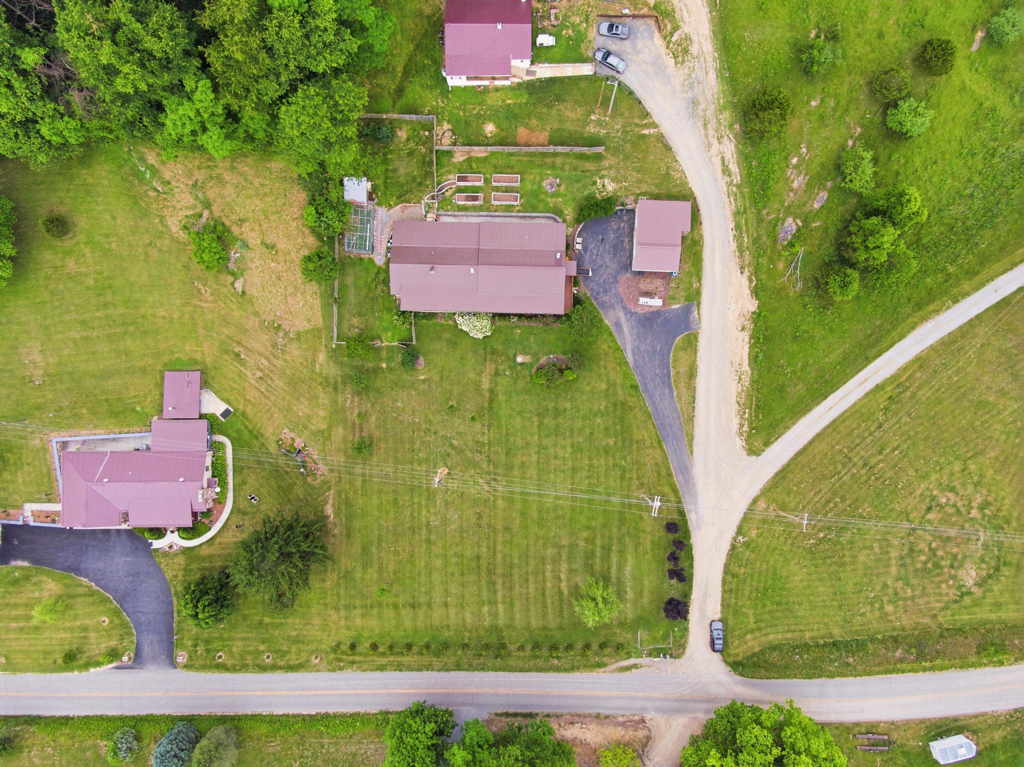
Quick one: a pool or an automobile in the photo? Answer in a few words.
automobile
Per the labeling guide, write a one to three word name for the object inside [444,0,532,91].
house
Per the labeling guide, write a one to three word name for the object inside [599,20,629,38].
car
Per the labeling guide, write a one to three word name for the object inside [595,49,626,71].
car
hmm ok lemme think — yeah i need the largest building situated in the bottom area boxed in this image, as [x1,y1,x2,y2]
[62,420,234,529]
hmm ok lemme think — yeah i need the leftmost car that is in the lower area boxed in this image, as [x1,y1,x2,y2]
[709,619,725,652]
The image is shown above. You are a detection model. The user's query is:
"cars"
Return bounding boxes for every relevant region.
[599,20,629,38]
[595,49,626,71]
[709,619,725,652]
